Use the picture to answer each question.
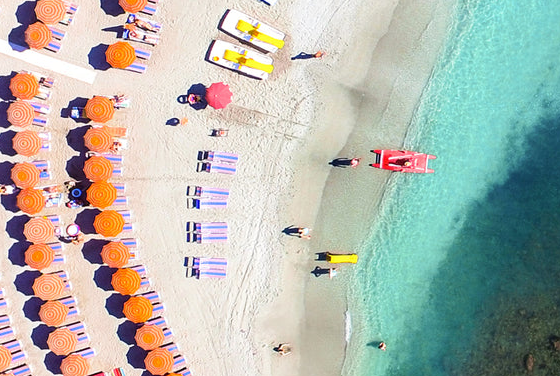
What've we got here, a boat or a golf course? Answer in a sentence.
It is a boat that can be seen here.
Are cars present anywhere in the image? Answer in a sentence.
No, this view has no car in it.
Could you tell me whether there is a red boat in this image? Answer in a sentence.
Yes, the frame does contain a red boat.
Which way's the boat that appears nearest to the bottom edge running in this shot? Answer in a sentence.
I'd say the boat that appears nearest to the bottom edge is aligned horizontally in the picture.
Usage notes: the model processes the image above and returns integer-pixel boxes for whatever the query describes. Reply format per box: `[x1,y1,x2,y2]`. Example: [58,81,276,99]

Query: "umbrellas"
[123,293,152,323]
[6,100,36,129]
[24,214,54,243]
[84,155,113,183]
[203,81,231,109]
[83,125,112,154]
[135,322,165,352]
[59,352,89,376]
[22,21,53,51]
[93,209,123,238]
[13,160,42,189]
[9,71,39,100]
[111,266,140,295]
[35,0,65,26]
[106,39,137,68]
[18,187,47,217]
[118,0,147,16]
[26,241,55,270]
[86,181,116,210]
[34,274,64,303]
[85,96,114,125]
[11,129,41,158]
[47,327,77,358]
[38,300,68,329]
[100,239,130,270]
